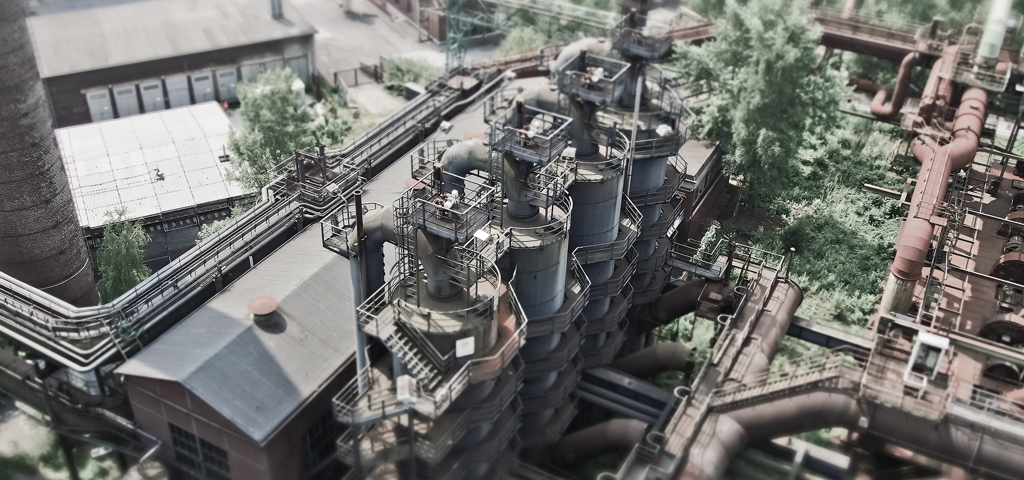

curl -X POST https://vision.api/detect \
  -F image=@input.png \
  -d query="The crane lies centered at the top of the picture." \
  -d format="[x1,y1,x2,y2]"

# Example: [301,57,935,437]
[442,0,649,69]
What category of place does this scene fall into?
industrial area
